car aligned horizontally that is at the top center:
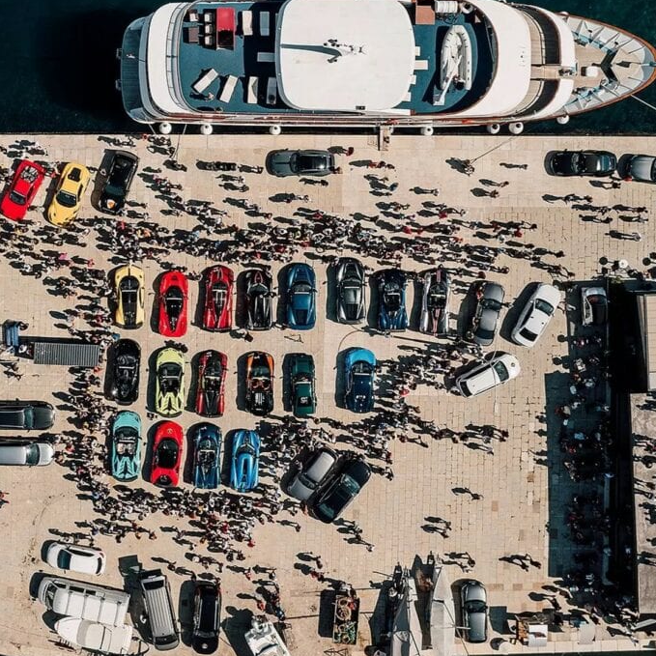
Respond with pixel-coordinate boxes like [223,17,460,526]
[266,145,336,179]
